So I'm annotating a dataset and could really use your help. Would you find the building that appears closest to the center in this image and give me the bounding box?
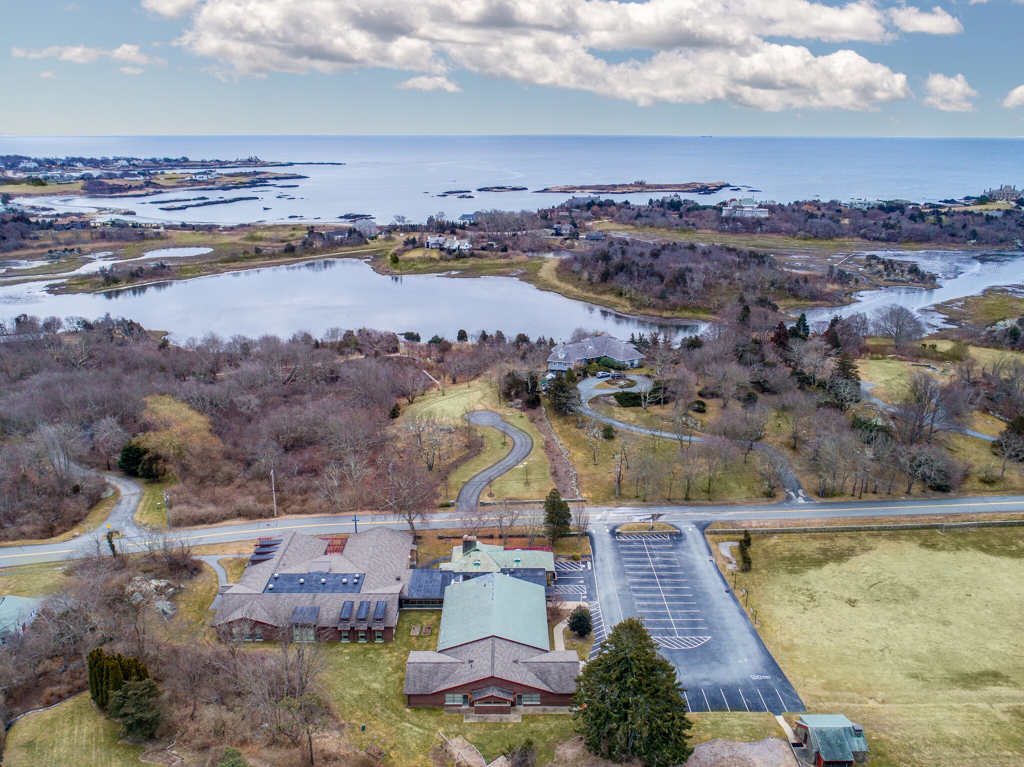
[547,333,645,375]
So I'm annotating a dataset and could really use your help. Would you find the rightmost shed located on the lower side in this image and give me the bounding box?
[794,715,871,767]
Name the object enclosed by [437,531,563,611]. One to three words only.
building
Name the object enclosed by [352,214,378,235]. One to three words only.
house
